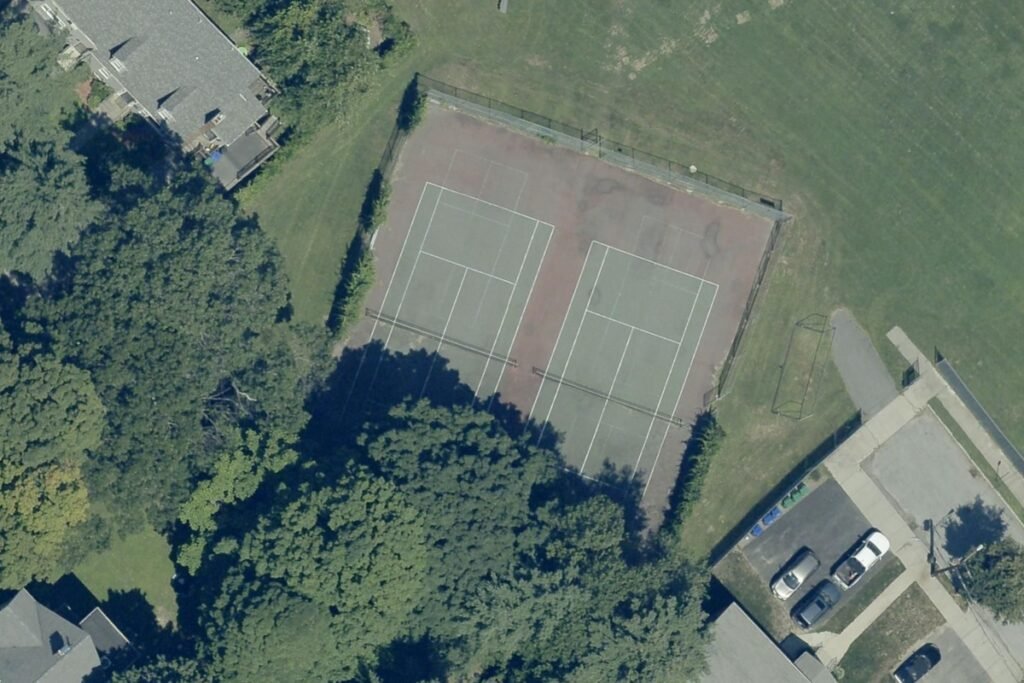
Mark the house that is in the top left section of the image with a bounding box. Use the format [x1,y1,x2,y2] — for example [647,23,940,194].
[32,0,285,192]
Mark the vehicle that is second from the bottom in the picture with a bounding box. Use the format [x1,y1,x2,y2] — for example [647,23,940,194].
[792,582,842,634]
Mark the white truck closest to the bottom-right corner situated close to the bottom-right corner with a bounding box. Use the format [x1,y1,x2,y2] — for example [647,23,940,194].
[831,533,891,593]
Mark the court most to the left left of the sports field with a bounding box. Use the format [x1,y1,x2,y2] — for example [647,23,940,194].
[332,151,554,472]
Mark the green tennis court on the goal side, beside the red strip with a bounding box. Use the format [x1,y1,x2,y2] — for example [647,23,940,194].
[504,216,719,538]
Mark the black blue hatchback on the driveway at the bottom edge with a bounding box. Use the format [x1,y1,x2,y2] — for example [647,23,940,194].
[894,645,944,683]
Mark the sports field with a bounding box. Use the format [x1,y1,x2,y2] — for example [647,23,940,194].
[540,0,1024,461]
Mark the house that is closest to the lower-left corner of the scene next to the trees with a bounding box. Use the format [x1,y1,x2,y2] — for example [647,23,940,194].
[0,588,131,683]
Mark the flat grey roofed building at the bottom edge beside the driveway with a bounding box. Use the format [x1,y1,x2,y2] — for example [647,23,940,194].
[706,601,841,683]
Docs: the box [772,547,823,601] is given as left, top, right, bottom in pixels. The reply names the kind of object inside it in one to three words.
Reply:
car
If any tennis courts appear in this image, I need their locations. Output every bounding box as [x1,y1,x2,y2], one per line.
[504,216,719,538]
[332,151,554,472]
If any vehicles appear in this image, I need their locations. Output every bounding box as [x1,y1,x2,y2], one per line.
[831,533,891,593]
[772,547,823,601]
[792,582,842,634]
[894,645,944,683]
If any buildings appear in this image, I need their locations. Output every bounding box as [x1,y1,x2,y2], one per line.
[0,588,131,683]
[706,601,841,683]
[32,0,285,192]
